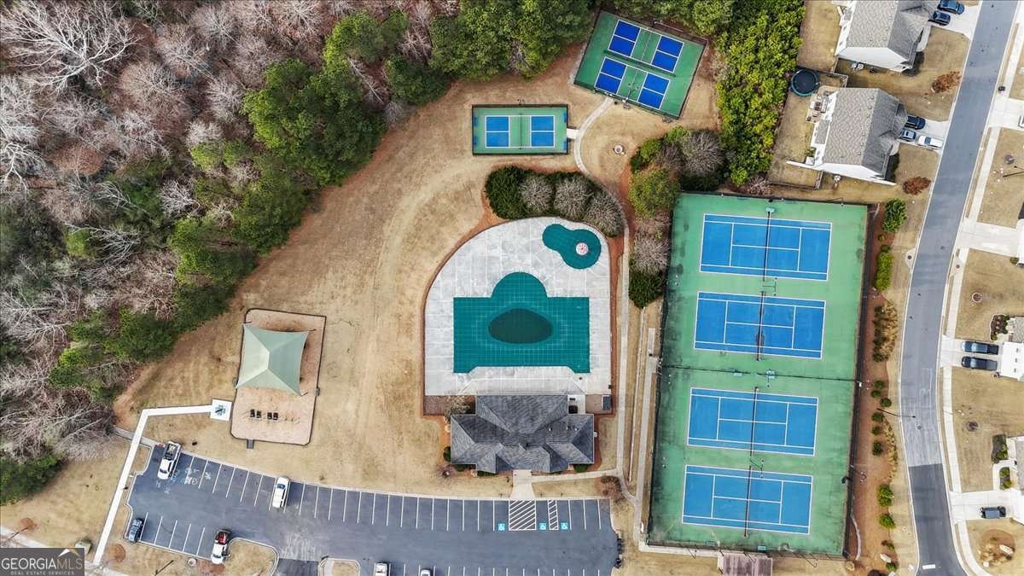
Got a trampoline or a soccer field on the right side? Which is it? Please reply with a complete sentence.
Looking on the right side, you will find a trampoline.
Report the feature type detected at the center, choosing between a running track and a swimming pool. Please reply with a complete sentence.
It is a swimming pool that can be seen at the center.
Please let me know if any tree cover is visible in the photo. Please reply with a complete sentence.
Yes, there's tree cover in this view.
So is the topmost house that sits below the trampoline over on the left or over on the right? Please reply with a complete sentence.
The topmost house that sits below the trampoline appears in the right half of the scene.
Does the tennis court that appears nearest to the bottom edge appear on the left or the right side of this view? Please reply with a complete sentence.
The tennis court that appears nearest to the bottom edge is on the right side of the image.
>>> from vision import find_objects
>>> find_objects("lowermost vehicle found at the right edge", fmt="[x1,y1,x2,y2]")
[978,505,1005,519]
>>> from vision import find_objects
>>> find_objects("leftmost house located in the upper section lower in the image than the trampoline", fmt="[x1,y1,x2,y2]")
[807,90,906,182]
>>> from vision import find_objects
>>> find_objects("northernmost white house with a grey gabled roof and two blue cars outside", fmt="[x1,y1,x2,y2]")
[835,0,937,72]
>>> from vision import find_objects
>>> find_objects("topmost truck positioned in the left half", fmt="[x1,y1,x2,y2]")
[160,443,181,478]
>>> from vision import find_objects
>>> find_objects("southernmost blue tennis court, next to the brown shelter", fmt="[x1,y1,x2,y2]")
[651,454,848,554]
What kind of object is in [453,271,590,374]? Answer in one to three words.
swimming pool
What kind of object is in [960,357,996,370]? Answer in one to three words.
vehicle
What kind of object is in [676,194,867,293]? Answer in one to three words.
tennis court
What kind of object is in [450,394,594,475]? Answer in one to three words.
building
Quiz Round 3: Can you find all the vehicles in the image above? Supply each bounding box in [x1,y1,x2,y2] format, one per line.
[960,357,996,370]
[375,562,387,576]
[904,128,920,142]
[934,0,962,15]
[934,10,952,26]
[915,133,944,149]
[978,505,1005,519]
[160,443,181,478]
[420,569,431,576]
[273,478,290,508]
[212,527,231,562]
[962,341,998,354]
[901,114,928,130]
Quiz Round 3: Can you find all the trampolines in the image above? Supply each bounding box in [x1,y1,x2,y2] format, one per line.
[791,65,825,96]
